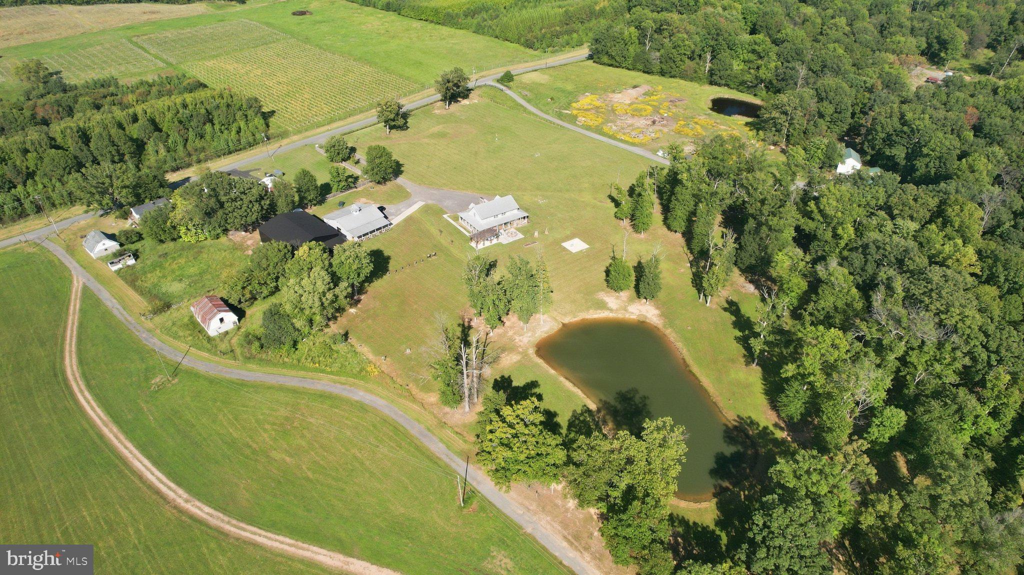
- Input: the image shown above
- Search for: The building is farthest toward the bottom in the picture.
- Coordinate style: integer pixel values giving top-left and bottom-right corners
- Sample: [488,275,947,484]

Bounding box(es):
[190,287,239,335]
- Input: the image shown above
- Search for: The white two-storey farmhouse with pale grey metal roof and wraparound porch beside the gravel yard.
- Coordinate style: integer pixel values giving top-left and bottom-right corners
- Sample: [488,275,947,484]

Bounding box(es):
[458,193,529,234]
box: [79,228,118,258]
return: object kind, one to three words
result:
barn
